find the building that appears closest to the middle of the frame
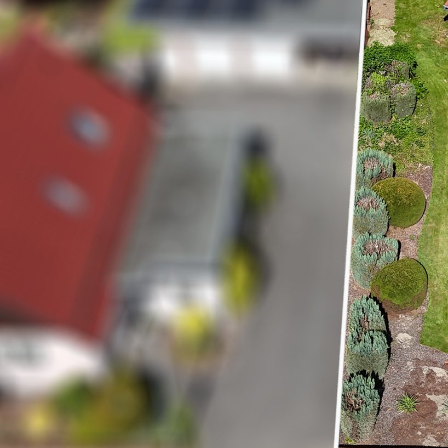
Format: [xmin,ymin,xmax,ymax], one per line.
[125,127,252,306]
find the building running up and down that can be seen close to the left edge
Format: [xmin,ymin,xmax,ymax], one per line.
[0,29,161,383]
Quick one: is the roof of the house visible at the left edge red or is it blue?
red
